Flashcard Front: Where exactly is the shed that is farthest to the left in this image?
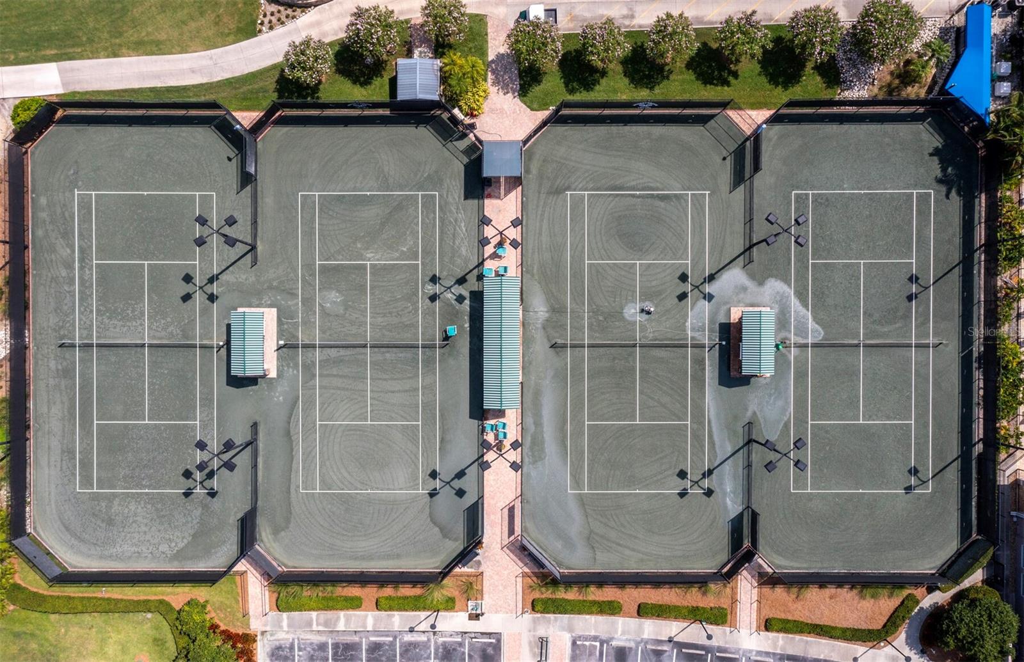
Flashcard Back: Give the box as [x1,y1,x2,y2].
[398,56,441,102]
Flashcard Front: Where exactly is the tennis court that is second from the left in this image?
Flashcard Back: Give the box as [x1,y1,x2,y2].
[257,109,485,572]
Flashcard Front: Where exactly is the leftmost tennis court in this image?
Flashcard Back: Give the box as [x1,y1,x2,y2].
[29,110,257,571]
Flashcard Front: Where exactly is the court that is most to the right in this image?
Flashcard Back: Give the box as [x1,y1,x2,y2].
[748,108,981,574]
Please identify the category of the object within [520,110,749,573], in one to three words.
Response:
tennis court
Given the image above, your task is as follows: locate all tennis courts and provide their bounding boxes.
[29,110,257,571]
[520,110,749,573]
[748,108,981,574]
[257,109,485,572]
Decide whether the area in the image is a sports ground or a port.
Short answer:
sports ground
